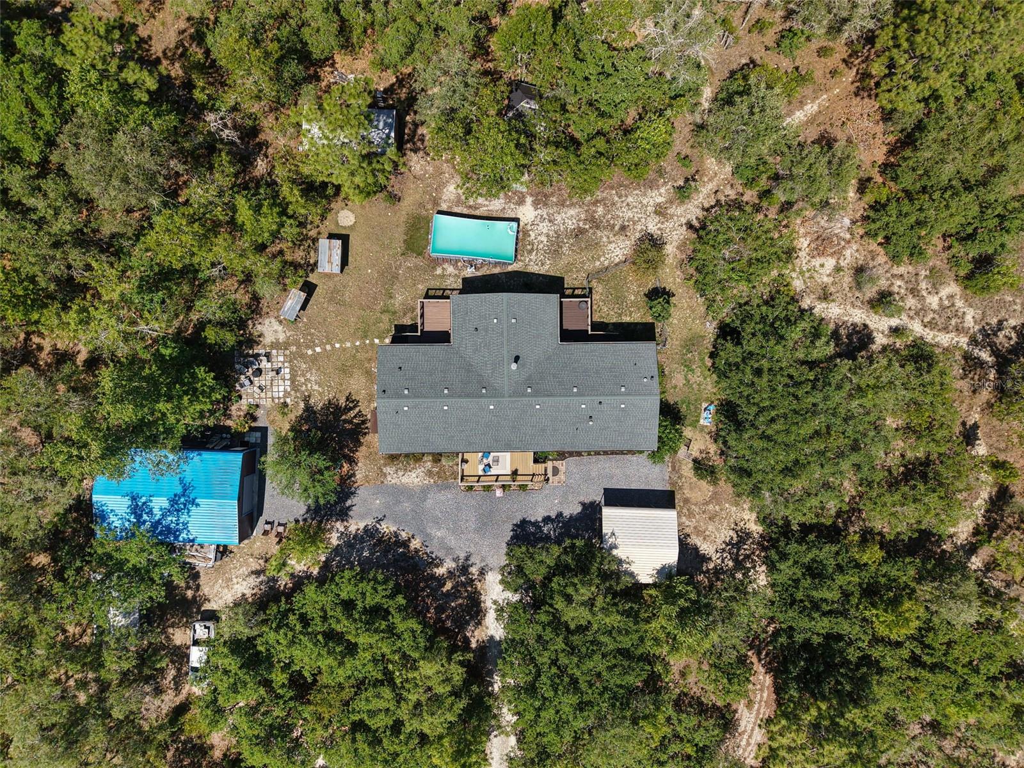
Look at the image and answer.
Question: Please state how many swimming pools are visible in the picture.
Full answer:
There is 1 swimming pool in the image.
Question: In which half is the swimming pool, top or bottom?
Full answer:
You can find the swimming pool in the top half.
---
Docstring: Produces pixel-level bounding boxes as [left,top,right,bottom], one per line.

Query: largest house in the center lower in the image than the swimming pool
[376,293,659,454]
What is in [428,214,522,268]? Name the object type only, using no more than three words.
swimming pool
